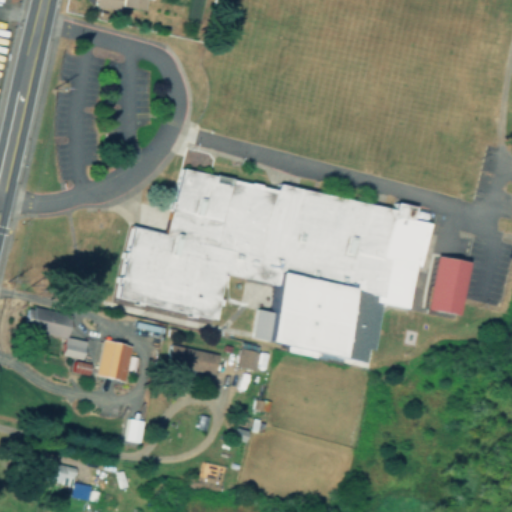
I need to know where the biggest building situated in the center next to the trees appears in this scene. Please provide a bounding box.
[112,168,435,368]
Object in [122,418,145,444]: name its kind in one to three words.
house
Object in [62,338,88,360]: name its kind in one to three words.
house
